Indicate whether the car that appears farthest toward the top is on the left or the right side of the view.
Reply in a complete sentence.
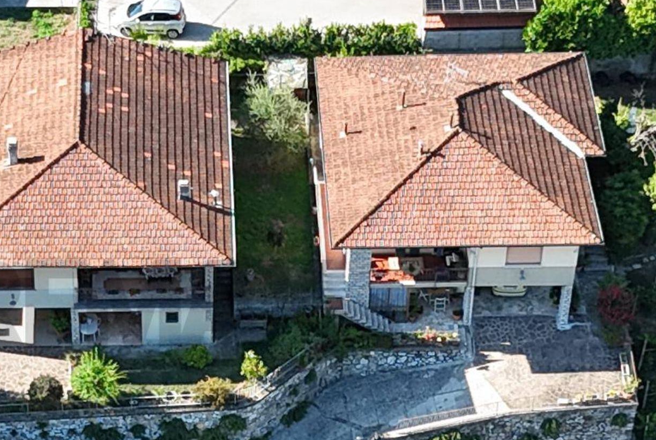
It is on the left.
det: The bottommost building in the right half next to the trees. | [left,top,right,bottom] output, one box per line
[310,49,609,326]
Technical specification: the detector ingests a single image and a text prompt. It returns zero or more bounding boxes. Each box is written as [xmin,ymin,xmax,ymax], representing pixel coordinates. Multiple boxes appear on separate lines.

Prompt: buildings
[0,27,238,349]
[310,49,609,326]
[417,0,536,50]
